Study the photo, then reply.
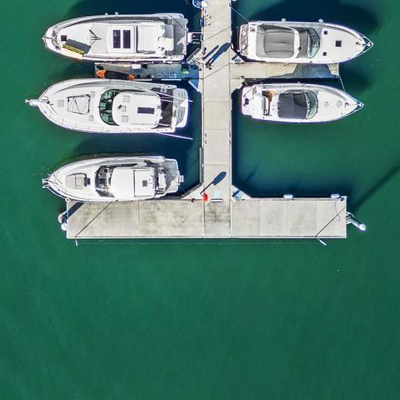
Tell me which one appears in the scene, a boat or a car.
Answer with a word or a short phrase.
boat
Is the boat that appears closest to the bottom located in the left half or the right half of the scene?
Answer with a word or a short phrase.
left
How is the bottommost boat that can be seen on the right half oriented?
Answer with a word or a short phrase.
horizontally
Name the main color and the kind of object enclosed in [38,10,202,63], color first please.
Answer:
white boat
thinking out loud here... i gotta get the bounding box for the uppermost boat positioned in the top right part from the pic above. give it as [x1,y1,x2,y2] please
[236,20,376,63]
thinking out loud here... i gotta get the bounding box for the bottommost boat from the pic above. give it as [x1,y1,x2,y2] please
[41,154,183,203]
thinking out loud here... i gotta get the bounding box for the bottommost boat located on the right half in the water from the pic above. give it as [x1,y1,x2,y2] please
[241,80,367,122]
